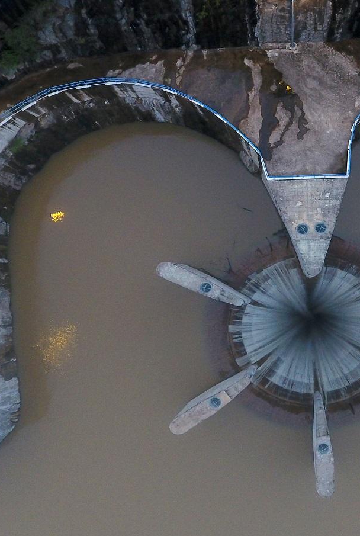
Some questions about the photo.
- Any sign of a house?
No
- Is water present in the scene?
Yes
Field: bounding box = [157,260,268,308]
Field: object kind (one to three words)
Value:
pier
